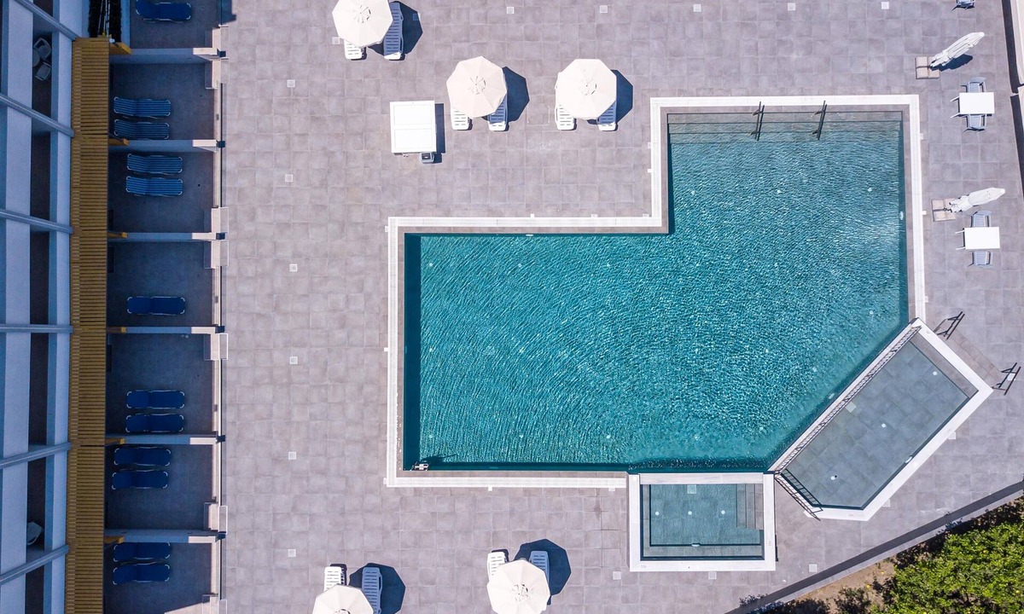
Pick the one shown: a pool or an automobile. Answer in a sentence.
The image shows a pool.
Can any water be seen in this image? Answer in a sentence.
Yes, the picture does contain water.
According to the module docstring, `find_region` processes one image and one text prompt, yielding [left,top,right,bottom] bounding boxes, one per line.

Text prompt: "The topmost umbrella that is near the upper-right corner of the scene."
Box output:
[916,34,980,79]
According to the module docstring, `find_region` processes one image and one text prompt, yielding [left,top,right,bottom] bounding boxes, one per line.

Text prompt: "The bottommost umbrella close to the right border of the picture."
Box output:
[932,191,999,222]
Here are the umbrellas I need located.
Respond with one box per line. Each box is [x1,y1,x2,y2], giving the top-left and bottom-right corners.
[488,556,550,614]
[314,582,374,614]
[332,0,394,48]
[932,191,999,222]
[446,57,508,119]
[916,34,980,79]
[558,60,616,118]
